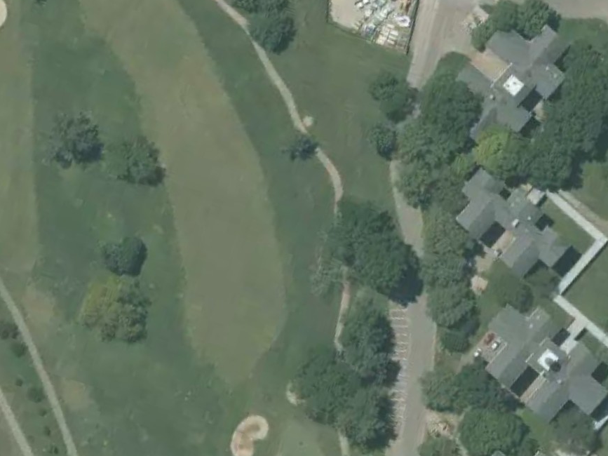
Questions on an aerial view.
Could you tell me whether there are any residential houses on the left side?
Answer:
No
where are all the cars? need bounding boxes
[474,347,483,357]
[491,340,498,351]
[485,332,494,345]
